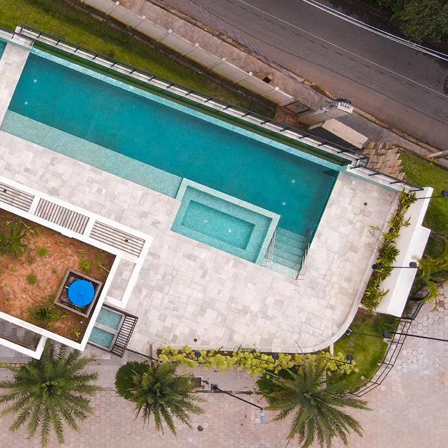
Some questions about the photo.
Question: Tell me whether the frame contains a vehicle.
No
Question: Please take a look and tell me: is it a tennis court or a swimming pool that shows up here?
swimming pool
